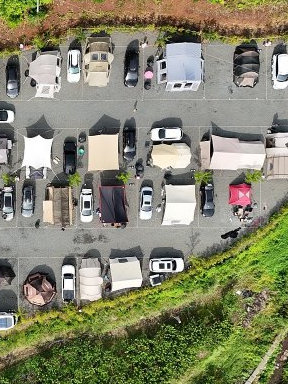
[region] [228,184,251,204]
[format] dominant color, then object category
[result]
red gazebo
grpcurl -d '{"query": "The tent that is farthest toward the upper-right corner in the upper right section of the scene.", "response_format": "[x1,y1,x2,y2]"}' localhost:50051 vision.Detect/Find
[231,44,263,87]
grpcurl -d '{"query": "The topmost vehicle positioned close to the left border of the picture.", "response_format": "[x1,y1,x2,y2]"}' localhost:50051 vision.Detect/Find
[5,64,20,98]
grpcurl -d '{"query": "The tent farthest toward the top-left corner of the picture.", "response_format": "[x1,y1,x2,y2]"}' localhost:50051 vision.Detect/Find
[23,54,60,100]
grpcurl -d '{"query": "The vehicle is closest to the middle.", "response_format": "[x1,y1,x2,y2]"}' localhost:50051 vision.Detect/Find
[138,186,154,219]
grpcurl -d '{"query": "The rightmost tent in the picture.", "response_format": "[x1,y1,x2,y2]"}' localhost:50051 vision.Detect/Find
[260,127,288,180]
